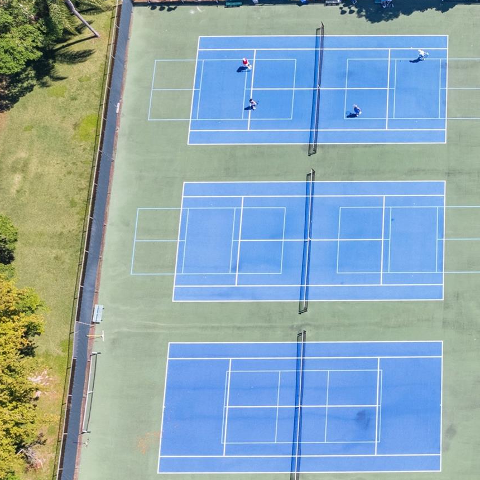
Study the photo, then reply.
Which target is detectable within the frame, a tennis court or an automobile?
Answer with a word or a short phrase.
tennis court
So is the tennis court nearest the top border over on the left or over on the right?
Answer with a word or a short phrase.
right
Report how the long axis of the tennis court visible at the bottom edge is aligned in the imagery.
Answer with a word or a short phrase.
horizontally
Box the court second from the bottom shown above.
[132,182,480,301]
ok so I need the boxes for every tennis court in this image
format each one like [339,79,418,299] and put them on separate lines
[157,340,442,473]
[148,35,480,144]
[132,182,480,301]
